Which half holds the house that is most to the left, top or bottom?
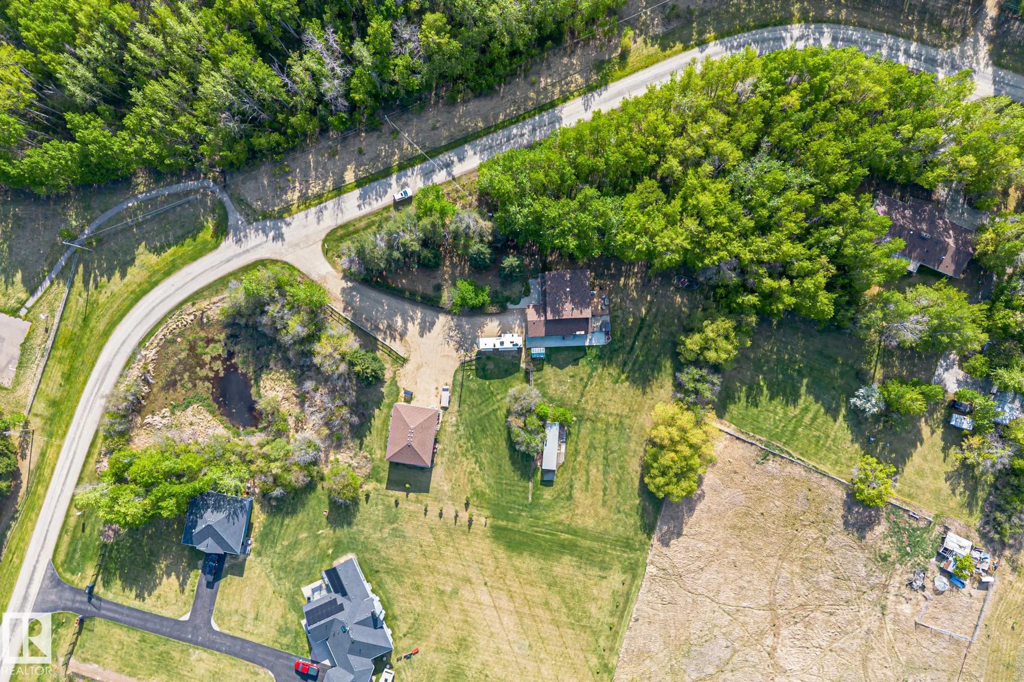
bottom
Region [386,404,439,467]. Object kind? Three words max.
building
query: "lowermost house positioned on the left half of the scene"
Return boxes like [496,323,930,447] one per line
[303,553,394,682]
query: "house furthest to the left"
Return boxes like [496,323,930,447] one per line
[181,491,258,557]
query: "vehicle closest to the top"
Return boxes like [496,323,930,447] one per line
[392,188,412,202]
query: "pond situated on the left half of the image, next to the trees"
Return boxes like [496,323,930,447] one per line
[213,358,264,428]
